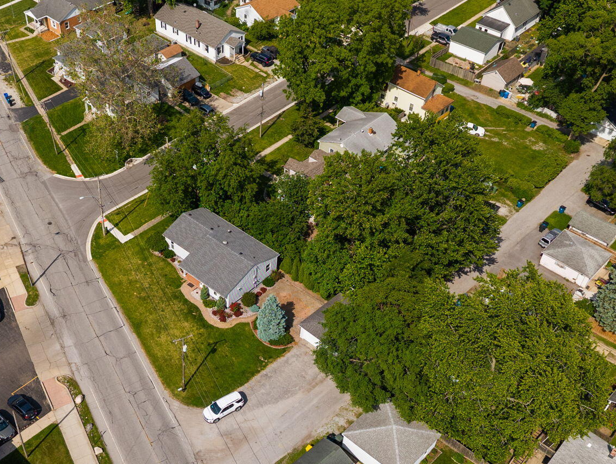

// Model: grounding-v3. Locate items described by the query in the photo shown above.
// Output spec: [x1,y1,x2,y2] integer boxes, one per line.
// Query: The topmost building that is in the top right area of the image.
[475,0,534,42]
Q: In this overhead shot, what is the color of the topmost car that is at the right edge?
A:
black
